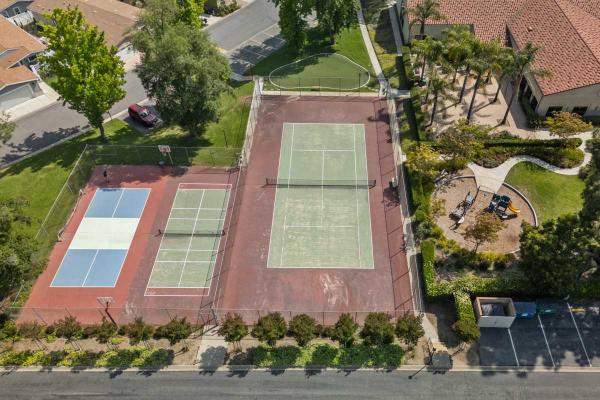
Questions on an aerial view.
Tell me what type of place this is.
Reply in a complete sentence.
The area seen from above is a sports ground.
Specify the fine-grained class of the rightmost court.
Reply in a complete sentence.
From above, the rightmost court can be identified as a tennis court.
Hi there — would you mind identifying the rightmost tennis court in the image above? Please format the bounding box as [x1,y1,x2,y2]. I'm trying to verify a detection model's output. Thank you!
[219,94,417,327]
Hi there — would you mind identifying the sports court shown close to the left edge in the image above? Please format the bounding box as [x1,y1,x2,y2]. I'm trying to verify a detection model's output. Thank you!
[19,165,179,322]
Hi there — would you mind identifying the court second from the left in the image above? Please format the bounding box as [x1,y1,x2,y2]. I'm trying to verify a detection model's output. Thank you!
[122,166,245,322]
